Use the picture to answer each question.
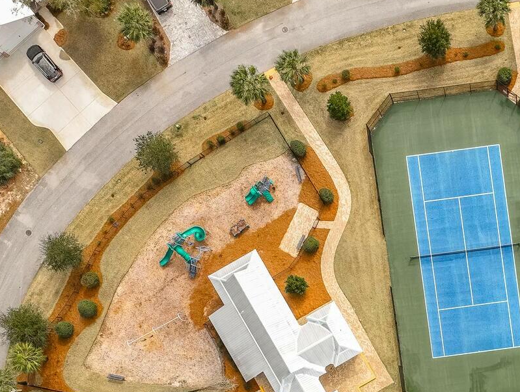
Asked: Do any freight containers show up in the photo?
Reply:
No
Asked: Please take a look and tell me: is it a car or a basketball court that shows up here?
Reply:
car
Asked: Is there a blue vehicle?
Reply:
No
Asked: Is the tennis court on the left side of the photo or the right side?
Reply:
right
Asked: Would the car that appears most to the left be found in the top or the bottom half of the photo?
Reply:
top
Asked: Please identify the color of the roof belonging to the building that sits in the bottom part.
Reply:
white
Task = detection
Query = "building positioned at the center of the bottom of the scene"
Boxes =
[208,250,364,392]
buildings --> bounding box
[0,0,46,60]
[208,250,364,392]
